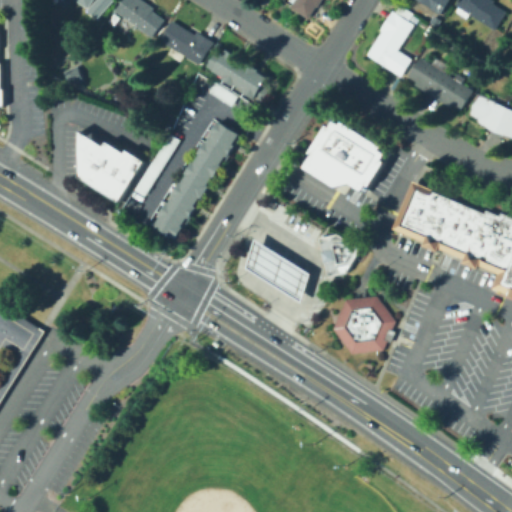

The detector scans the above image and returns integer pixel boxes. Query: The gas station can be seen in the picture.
[234,196,326,332]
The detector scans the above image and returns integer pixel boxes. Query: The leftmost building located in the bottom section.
[0,312,48,408]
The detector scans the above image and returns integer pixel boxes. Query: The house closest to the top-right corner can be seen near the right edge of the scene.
[458,0,508,29]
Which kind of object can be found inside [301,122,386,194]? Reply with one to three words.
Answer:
building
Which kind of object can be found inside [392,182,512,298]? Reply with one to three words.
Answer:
building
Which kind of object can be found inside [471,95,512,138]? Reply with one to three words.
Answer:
house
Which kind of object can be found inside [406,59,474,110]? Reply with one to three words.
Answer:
house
